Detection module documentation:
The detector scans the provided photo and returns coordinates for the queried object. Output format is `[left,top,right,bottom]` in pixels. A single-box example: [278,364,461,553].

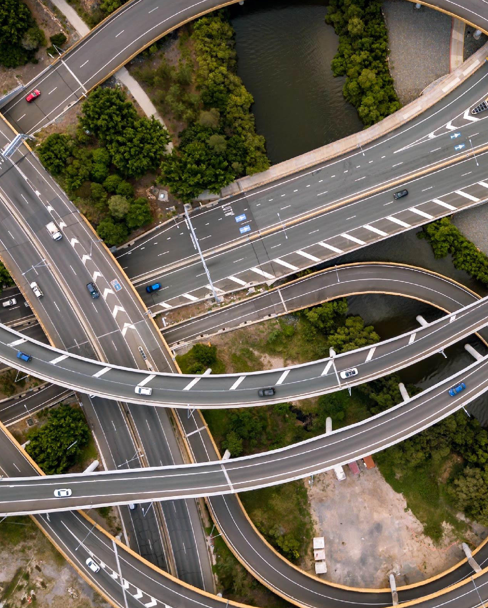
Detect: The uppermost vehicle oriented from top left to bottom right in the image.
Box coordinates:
[46,220,62,239]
